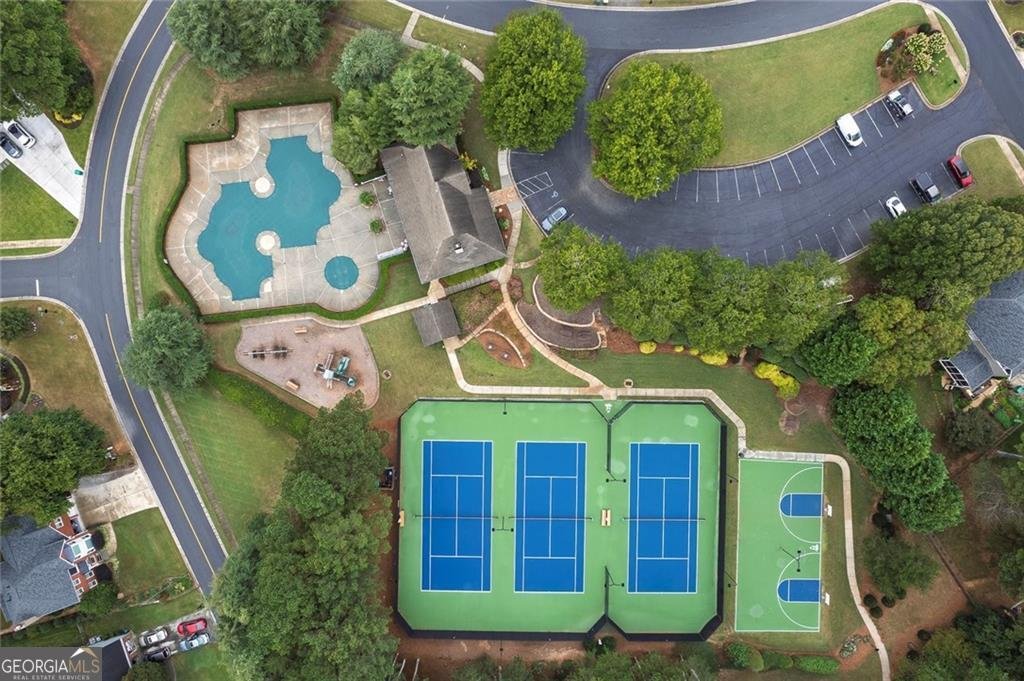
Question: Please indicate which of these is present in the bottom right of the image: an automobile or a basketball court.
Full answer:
The one visible in the bottom right of the image is a basketball court.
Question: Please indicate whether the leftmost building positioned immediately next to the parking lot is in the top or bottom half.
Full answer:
The leftmost building positioned immediately next to the parking lot sits in the top half of the picture.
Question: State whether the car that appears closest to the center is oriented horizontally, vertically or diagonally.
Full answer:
The car that appears closest to the center runs diagonally in the image.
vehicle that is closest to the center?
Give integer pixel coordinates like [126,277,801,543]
[540,204,571,232]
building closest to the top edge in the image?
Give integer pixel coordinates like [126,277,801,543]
[382,133,506,284]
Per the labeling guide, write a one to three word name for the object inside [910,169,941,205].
truck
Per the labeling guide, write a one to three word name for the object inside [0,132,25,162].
car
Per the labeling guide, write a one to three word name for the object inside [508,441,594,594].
tennis court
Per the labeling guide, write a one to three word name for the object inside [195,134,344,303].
swimming pool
